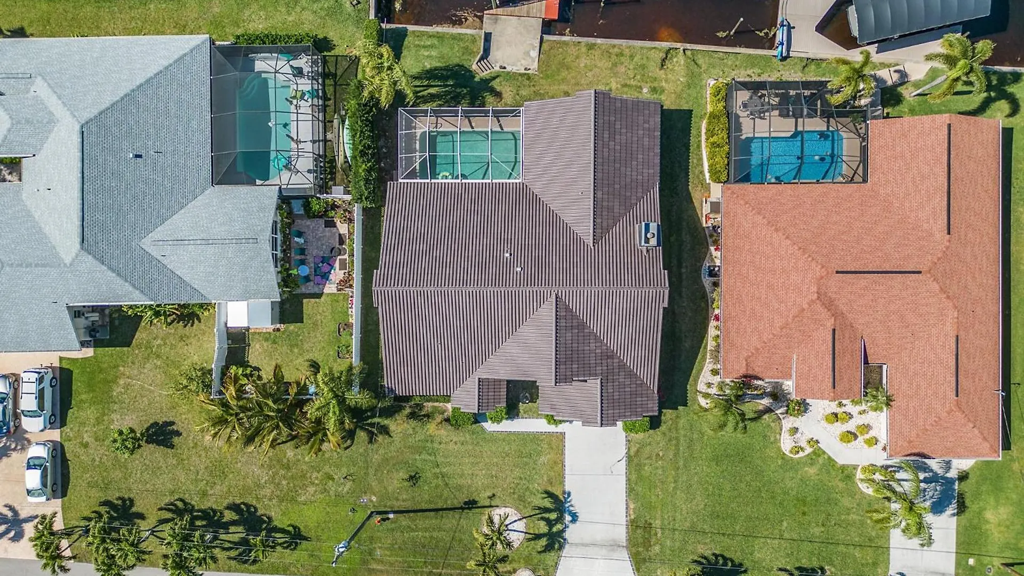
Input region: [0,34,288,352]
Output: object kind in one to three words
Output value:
house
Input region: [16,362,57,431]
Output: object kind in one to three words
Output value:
car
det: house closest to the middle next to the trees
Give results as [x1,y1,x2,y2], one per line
[370,89,670,427]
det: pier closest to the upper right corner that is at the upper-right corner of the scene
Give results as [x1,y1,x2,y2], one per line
[777,0,967,65]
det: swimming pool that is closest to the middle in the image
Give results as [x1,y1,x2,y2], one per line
[414,125,521,180]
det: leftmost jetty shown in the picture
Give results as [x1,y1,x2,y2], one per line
[484,0,558,21]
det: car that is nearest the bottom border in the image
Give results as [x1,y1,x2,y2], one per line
[22,439,59,505]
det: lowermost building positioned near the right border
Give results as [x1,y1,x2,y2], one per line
[717,113,1003,459]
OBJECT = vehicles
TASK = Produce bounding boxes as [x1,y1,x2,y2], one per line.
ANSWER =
[22,439,59,505]
[16,362,57,431]
[0,373,14,438]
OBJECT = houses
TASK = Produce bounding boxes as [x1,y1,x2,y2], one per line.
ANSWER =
[0,34,288,352]
[717,113,1003,459]
[370,89,670,427]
